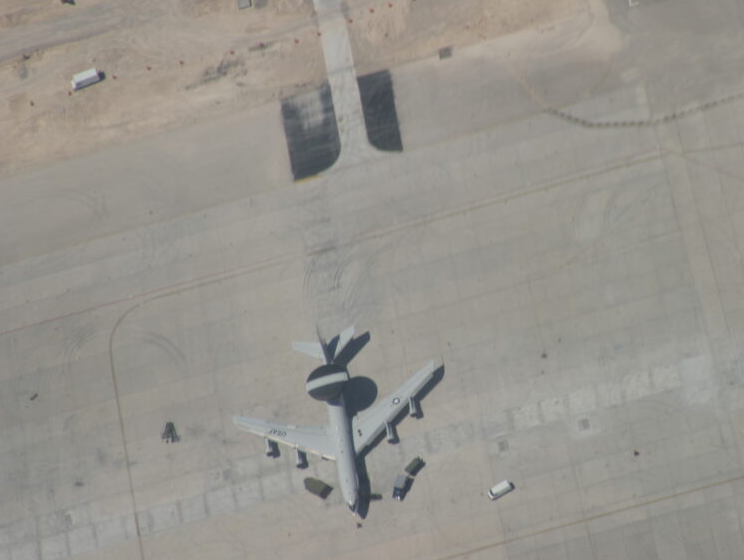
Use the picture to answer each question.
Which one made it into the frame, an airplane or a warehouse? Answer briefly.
airplane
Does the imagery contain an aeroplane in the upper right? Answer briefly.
No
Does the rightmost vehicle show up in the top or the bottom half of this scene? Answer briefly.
bottom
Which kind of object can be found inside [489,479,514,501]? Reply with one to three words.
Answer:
vehicle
